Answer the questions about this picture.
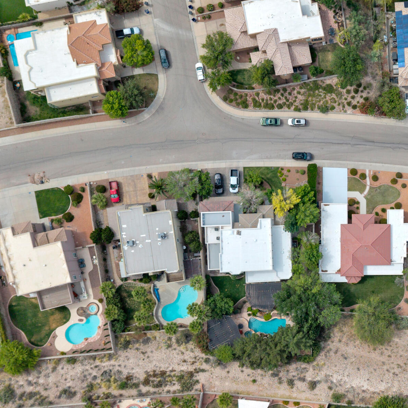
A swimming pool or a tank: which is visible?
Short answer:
swimming pool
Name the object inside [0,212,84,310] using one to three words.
house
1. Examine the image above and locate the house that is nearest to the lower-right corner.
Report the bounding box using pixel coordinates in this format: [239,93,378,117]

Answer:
[319,203,408,283]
